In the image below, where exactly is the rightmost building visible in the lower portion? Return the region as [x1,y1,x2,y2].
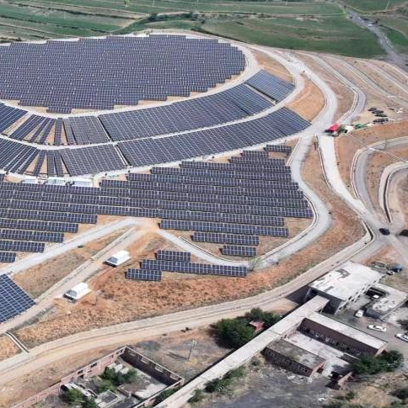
[361,287,408,321]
